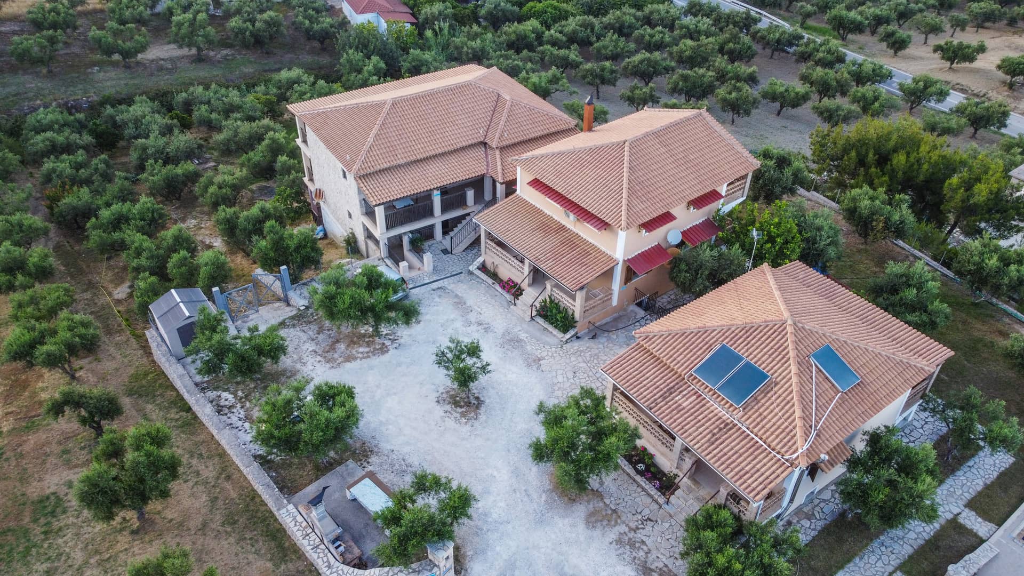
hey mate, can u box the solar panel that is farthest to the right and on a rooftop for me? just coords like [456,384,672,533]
[810,345,862,395]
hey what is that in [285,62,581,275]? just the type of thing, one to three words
house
